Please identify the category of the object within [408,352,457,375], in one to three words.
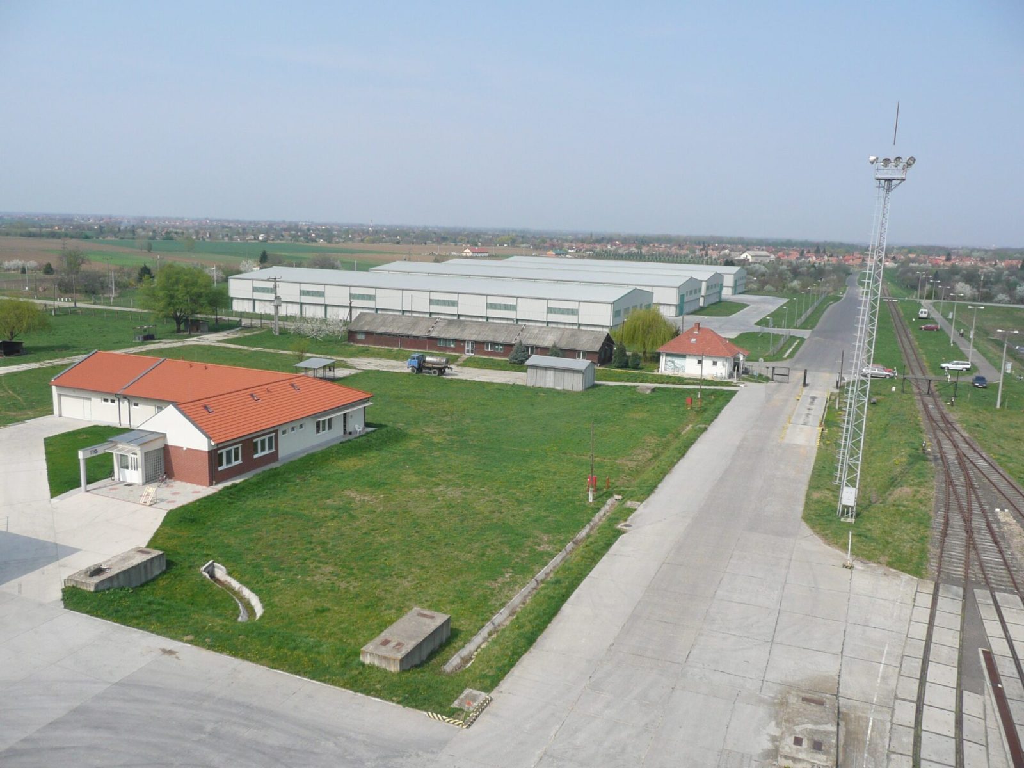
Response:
truck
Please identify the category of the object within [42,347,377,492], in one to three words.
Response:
building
